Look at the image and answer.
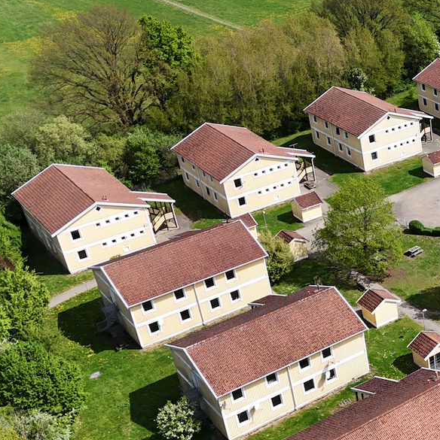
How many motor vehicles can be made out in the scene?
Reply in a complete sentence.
The photo contains no motor vehicles.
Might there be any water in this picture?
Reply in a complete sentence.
No, there's no water in this view.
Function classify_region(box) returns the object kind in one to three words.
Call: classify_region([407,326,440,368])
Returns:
shed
